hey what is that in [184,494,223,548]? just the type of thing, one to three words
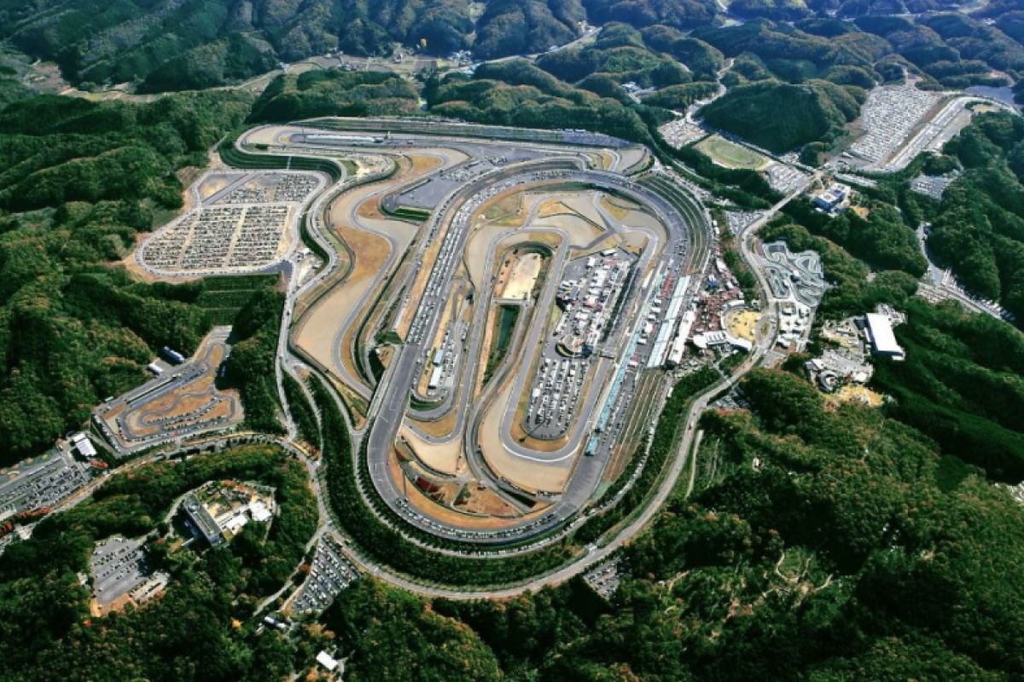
building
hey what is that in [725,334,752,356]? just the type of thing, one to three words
building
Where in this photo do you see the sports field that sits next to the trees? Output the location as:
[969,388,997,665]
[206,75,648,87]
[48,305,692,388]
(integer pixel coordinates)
[693,133,775,170]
